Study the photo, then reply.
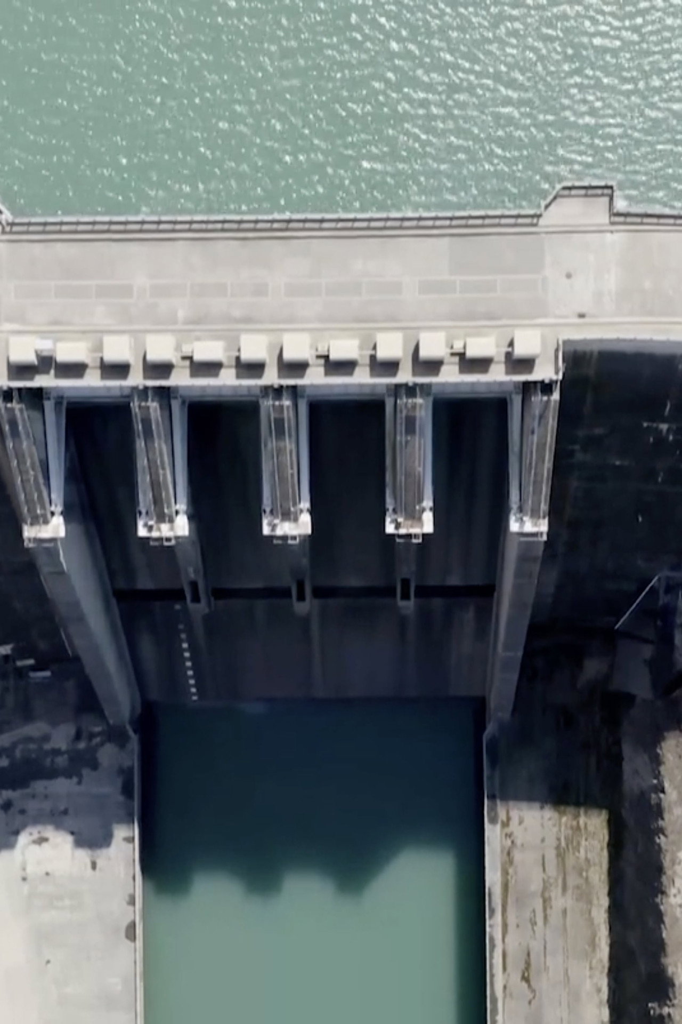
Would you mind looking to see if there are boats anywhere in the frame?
No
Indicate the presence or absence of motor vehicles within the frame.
No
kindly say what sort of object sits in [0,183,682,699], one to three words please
dam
